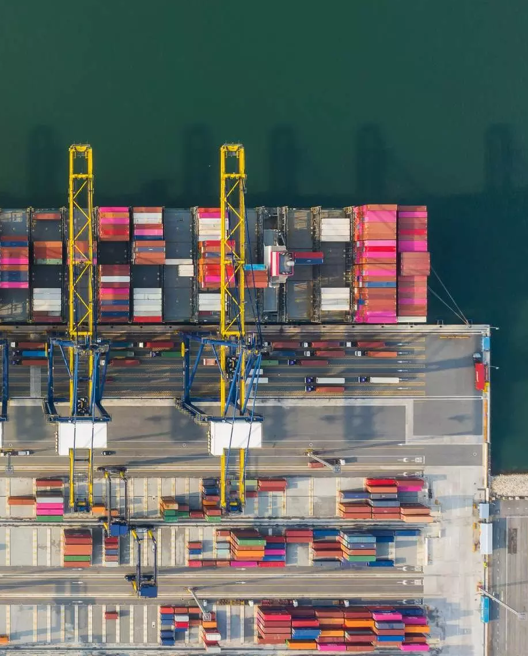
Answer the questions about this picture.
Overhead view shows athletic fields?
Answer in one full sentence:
No, I find no athletic field anywhere in the image.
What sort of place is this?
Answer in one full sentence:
This looks like a port.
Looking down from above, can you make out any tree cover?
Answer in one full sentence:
No, there is no tree cover in the image.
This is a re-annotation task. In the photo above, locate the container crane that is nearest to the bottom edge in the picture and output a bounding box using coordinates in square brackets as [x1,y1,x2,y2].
[126,525,159,600]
